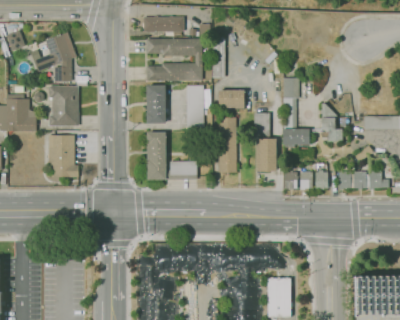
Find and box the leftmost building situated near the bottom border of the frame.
[268,277,292,318]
